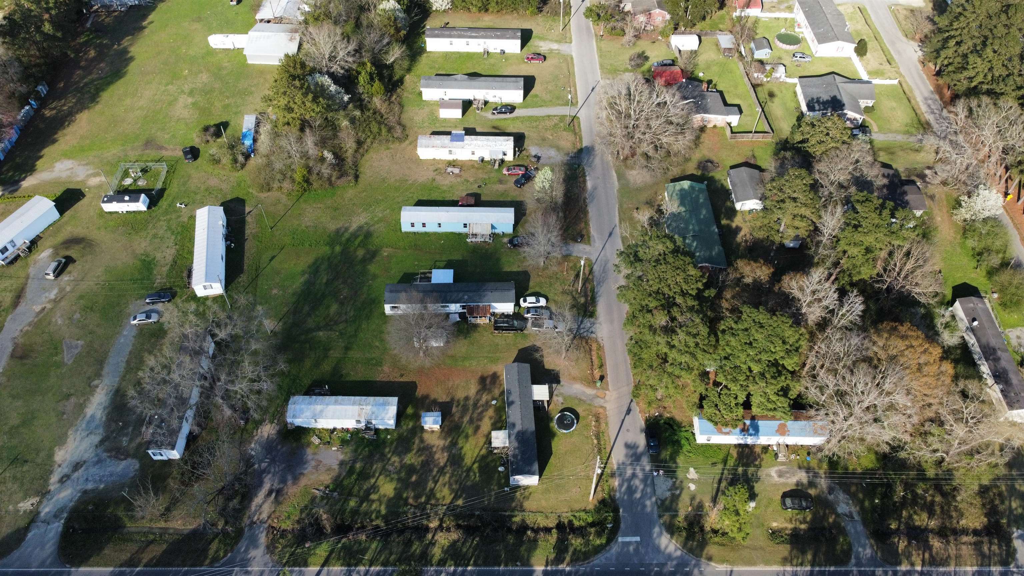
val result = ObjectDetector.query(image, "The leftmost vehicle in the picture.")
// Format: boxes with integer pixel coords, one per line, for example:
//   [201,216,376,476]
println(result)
[44,259,68,281]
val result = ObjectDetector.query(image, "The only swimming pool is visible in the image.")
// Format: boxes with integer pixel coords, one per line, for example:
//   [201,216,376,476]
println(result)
[773,27,803,50]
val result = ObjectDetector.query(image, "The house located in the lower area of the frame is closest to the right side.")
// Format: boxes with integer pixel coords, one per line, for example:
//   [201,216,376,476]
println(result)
[949,296,1024,420]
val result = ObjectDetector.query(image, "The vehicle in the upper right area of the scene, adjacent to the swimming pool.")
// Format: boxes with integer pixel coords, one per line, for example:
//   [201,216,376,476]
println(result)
[791,51,811,63]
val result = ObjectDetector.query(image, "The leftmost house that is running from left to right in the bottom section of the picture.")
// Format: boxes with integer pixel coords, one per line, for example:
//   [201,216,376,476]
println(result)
[283,396,397,443]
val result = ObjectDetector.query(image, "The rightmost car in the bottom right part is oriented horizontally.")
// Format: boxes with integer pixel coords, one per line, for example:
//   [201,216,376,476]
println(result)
[779,496,814,512]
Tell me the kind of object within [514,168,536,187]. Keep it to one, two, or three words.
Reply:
vehicle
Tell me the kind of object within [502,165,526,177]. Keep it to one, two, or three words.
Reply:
vehicle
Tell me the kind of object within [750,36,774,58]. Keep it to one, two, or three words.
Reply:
shed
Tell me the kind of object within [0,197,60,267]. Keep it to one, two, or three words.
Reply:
house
